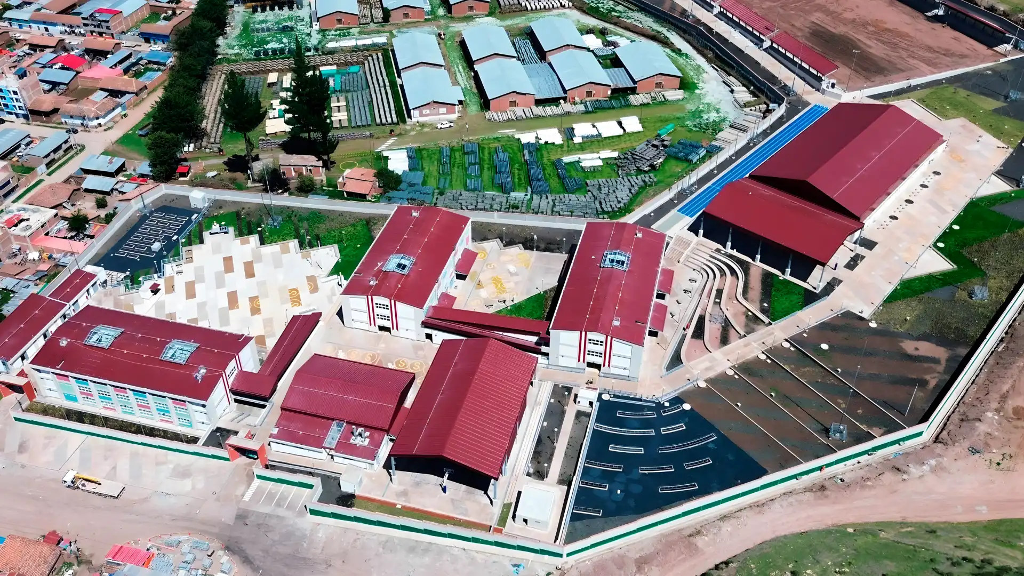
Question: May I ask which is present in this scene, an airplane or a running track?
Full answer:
Visible in the photo is a running track.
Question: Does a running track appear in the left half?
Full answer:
No, no running track is visible in the left half.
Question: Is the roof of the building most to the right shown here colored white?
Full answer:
No, the color of the roof of the building most to the right is red.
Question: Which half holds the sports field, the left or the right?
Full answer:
It is on the right.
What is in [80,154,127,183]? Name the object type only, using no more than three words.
house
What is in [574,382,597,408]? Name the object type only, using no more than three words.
shed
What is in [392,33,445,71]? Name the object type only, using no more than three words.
building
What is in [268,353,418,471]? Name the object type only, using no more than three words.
building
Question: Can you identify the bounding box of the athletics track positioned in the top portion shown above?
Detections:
[677,107,829,218]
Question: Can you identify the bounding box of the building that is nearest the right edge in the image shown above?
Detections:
[753,103,944,222]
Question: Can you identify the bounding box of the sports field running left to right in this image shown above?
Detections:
[762,0,1008,94]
